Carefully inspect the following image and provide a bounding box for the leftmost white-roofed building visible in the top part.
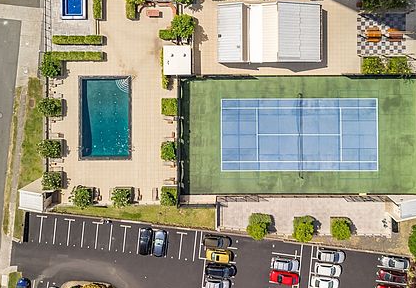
[163,46,193,75]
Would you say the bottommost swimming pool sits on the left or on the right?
left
